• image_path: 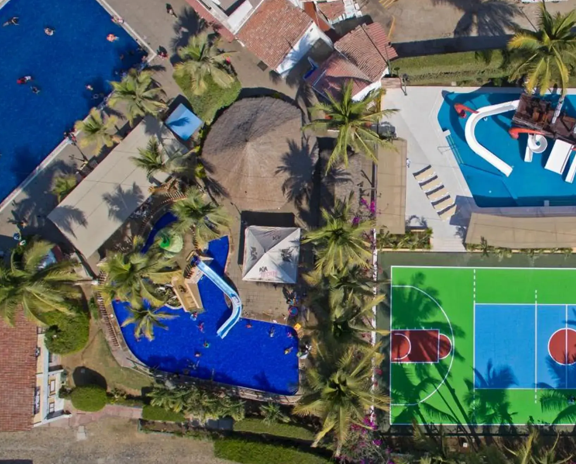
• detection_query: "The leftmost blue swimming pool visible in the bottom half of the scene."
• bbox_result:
[109,208,301,399]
